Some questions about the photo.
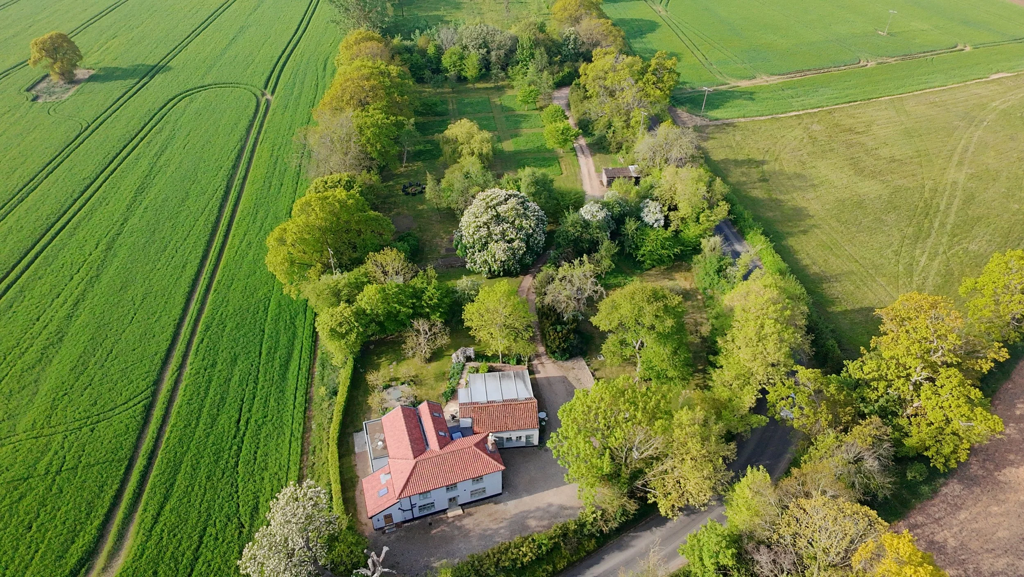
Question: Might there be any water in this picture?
No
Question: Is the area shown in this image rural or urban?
rural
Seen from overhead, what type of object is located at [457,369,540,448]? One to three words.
building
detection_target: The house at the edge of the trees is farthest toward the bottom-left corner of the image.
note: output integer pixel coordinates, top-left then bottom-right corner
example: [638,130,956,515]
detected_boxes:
[361,399,506,530]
